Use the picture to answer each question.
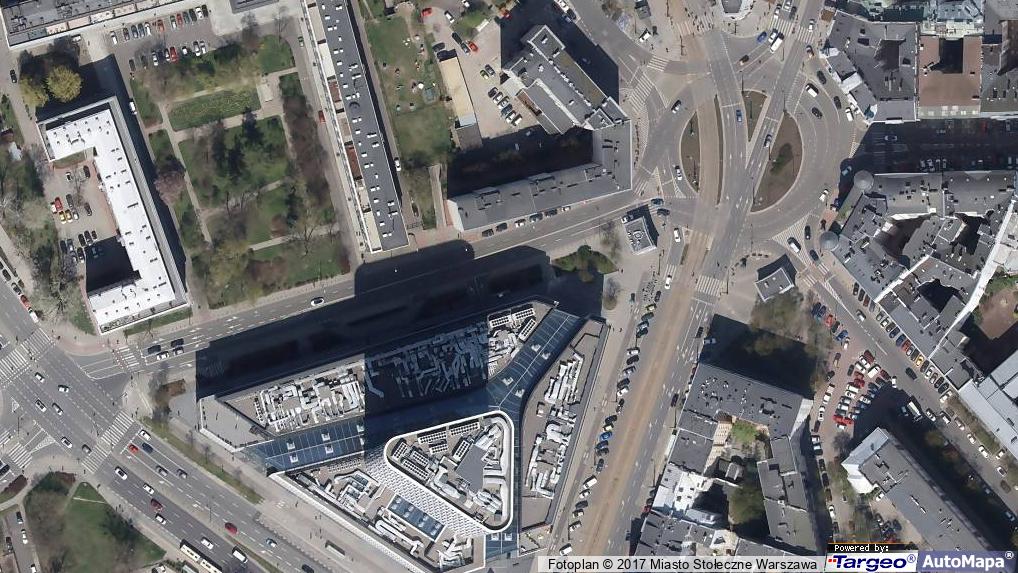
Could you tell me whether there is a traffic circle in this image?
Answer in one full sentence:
Yes, this view includes a traffic circle.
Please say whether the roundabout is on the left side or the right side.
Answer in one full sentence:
It is on the right.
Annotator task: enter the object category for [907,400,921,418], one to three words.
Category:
vehicle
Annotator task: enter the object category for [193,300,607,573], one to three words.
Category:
building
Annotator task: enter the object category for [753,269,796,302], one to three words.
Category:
building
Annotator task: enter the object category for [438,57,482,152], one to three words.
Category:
shed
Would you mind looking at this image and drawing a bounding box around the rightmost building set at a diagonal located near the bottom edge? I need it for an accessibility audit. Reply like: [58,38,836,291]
[833,428,1018,573]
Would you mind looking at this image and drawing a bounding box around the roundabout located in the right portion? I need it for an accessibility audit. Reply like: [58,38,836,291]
[632,38,862,256]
